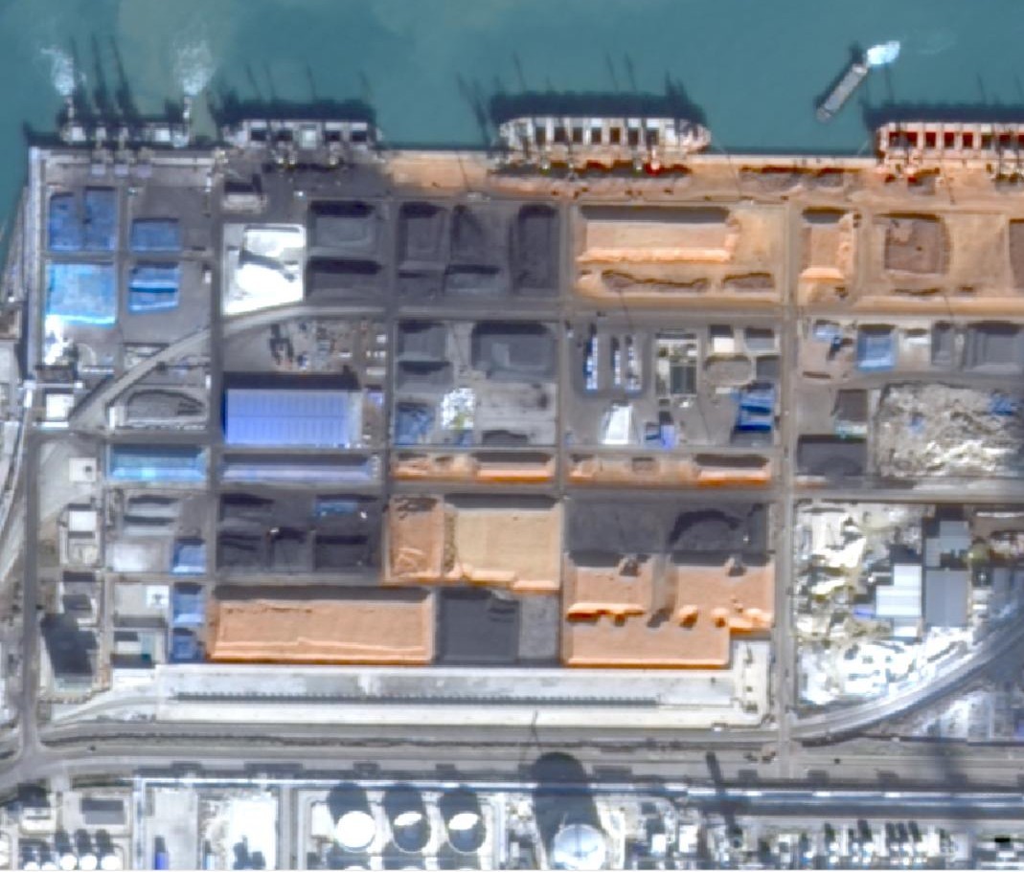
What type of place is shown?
port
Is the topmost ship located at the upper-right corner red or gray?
gray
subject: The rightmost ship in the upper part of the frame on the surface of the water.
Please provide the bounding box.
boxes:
[877,119,1024,154]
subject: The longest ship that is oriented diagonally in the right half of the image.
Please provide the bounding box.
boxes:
[820,56,870,114]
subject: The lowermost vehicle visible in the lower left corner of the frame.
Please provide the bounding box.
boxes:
[155,852,167,869]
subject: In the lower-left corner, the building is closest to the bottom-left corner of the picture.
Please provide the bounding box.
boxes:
[23,810,55,832]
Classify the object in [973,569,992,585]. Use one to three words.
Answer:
house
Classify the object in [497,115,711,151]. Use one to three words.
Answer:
ship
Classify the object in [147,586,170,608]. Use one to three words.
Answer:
building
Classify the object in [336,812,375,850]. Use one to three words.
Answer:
storage tank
